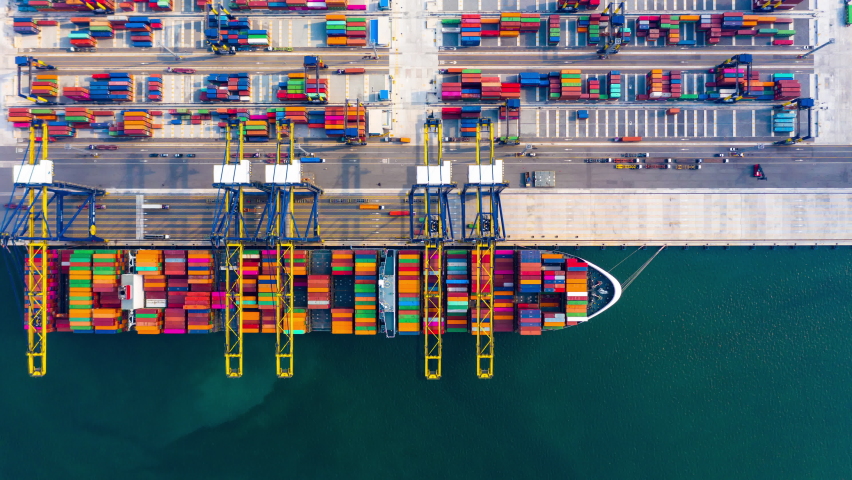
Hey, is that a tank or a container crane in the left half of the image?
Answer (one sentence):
Looking in the left half of the image, you will find a container crane.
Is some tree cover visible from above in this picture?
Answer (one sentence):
No, tree cover can't be seen anywhere here.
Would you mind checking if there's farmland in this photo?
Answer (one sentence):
No, there's no farmland in this view.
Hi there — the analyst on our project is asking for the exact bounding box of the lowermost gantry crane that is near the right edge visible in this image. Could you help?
[772,97,815,146]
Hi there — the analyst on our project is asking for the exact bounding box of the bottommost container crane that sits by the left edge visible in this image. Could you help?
[0,113,107,380]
